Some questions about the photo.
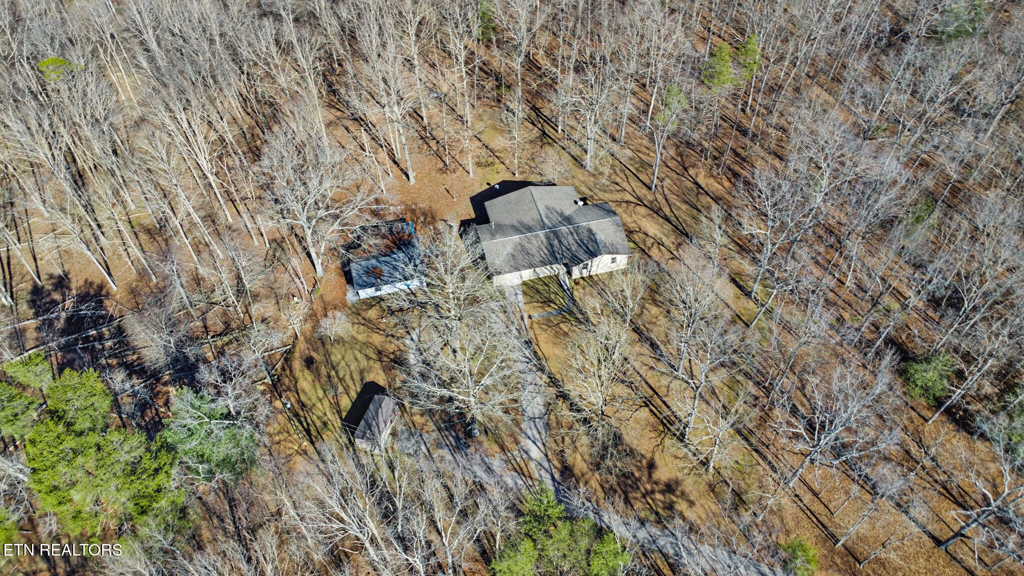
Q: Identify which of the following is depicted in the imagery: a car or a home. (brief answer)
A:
home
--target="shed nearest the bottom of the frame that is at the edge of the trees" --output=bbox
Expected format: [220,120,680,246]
[354,395,399,451]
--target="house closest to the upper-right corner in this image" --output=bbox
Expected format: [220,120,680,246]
[476,186,632,285]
